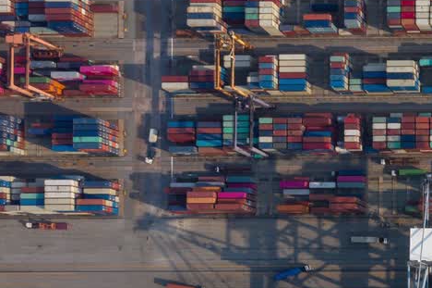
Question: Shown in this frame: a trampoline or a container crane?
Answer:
container crane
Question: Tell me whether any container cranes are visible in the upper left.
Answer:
Yes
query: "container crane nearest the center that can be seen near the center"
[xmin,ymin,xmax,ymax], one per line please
[230,91,273,162]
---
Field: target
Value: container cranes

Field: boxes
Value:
[230,91,273,162]
[213,29,254,102]
[407,171,432,288]
[3,30,58,103]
